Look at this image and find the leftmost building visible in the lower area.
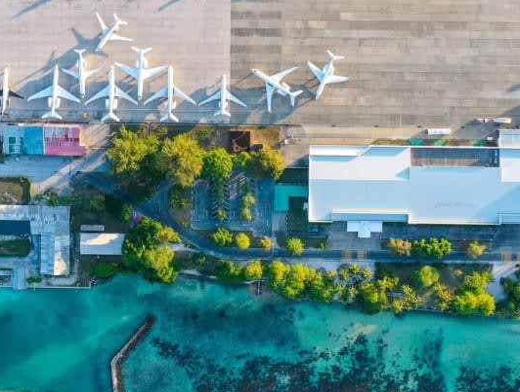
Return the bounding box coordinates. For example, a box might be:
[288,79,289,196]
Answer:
[0,203,70,275]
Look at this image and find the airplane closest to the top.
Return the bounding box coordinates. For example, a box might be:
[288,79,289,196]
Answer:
[96,13,132,49]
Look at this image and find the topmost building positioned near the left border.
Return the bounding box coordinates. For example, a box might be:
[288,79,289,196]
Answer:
[2,124,86,156]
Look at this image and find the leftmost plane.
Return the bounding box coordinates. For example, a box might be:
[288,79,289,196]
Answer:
[0,68,23,118]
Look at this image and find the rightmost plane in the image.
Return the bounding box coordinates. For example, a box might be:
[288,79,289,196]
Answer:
[307,55,351,98]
